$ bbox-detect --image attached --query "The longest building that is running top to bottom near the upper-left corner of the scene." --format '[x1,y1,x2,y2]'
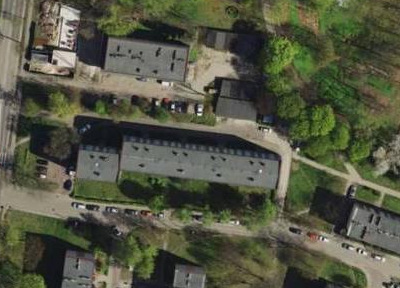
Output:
[59,5,81,51]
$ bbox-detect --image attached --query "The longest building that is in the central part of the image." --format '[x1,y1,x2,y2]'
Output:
[120,136,279,190]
